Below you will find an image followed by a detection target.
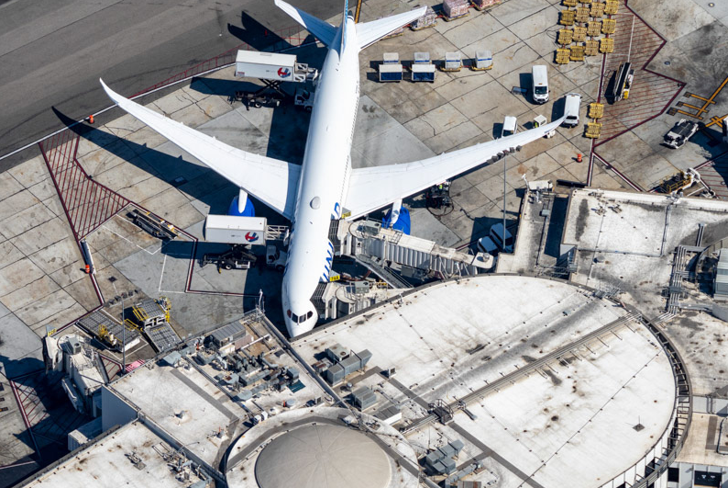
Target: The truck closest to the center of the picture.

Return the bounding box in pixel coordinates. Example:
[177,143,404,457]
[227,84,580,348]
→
[421,184,456,226]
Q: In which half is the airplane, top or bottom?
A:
top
